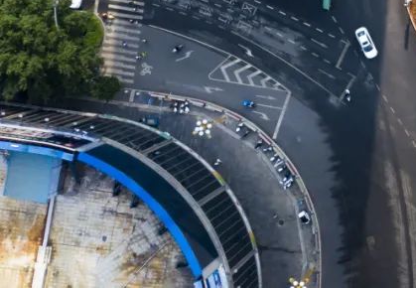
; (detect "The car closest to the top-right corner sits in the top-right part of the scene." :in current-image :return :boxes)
[354,25,378,61]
